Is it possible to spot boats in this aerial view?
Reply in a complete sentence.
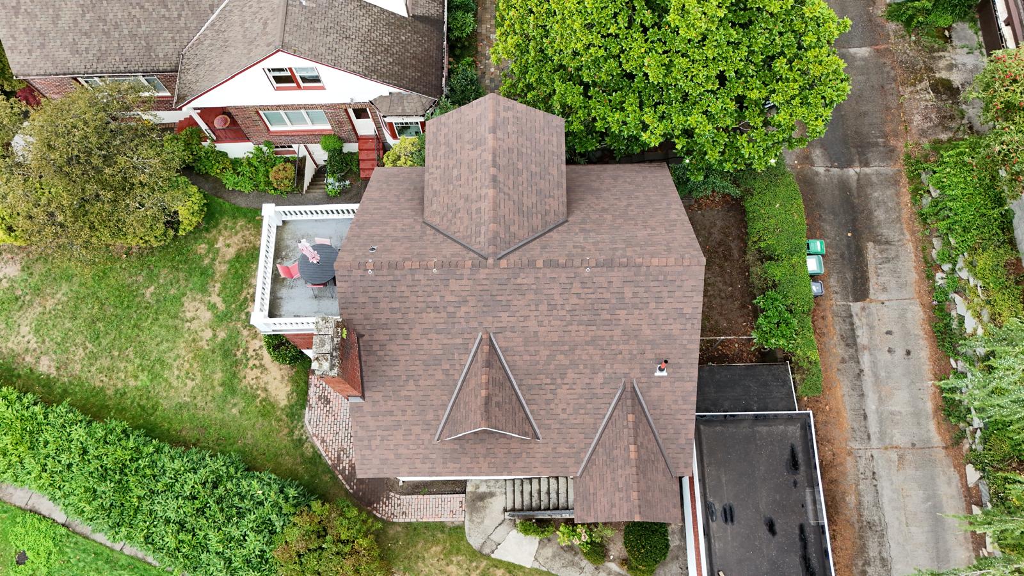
No, the scene contains no boat.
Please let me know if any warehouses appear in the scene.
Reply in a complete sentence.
No, there appears to be no warehouse in this shot.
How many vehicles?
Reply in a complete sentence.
I count no vehicles.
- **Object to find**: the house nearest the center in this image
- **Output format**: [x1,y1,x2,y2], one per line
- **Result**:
[304,92,706,523]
